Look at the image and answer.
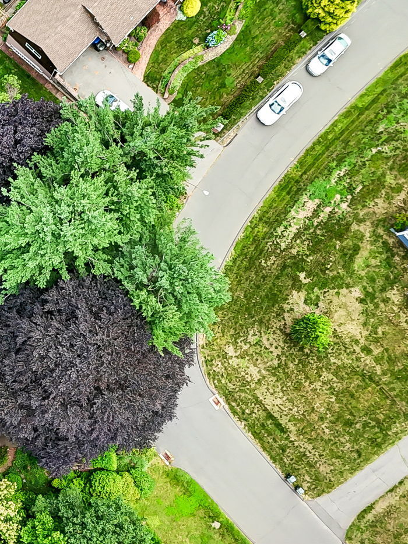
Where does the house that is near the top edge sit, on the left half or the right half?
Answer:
left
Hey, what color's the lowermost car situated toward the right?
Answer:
white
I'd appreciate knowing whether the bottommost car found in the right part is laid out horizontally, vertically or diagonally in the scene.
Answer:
diagonally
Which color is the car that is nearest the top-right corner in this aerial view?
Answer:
white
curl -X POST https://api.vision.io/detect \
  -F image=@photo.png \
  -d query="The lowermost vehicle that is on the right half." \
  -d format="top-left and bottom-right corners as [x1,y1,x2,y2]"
[254,77,307,129]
